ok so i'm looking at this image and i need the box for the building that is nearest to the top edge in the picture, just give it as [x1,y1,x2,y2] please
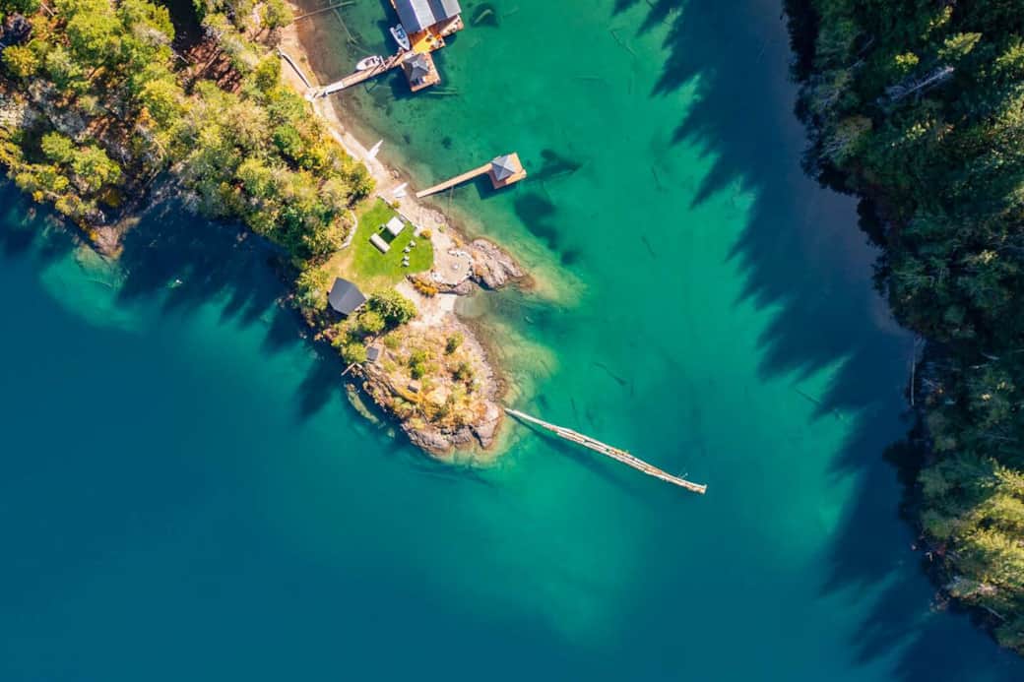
[389,0,464,53]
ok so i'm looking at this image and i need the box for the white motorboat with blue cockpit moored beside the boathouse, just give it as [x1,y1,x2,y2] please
[391,24,409,50]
